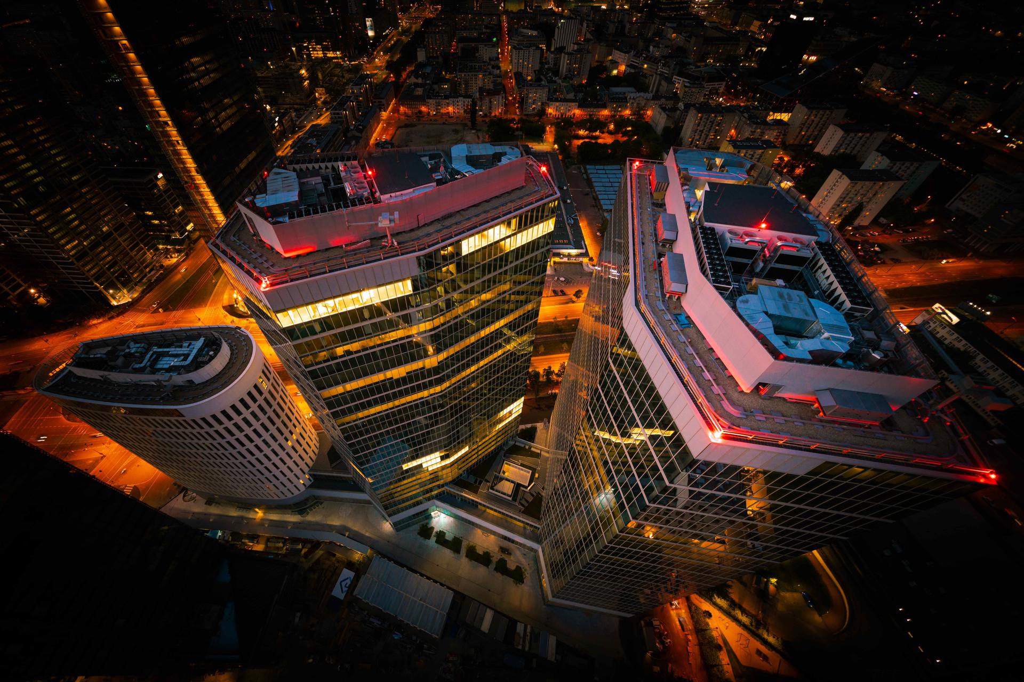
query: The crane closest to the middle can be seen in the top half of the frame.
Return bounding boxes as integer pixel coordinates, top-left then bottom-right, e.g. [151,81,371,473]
[346,203,404,247]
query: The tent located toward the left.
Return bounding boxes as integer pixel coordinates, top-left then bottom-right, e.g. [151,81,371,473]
[354,555,454,638]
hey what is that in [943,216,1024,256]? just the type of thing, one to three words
building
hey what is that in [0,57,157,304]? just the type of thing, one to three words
building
